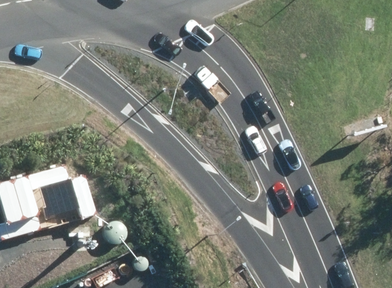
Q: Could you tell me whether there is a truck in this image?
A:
Yes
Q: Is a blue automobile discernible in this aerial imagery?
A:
Yes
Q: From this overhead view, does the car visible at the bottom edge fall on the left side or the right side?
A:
right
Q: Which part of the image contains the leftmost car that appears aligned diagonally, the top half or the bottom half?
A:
top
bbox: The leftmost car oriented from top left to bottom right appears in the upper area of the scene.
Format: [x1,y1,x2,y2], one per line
[150,32,181,59]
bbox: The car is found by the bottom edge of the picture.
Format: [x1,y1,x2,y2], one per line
[332,260,353,288]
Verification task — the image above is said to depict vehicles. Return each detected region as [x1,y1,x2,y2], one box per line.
[332,260,353,288]
[244,126,268,156]
[150,32,181,59]
[194,66,230,103]
[271,181,293,213]
[278,138,300,171]
[14,44,42,60]
[248,92,276,125]
[184,20,214,46]
[298,184,318,212]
